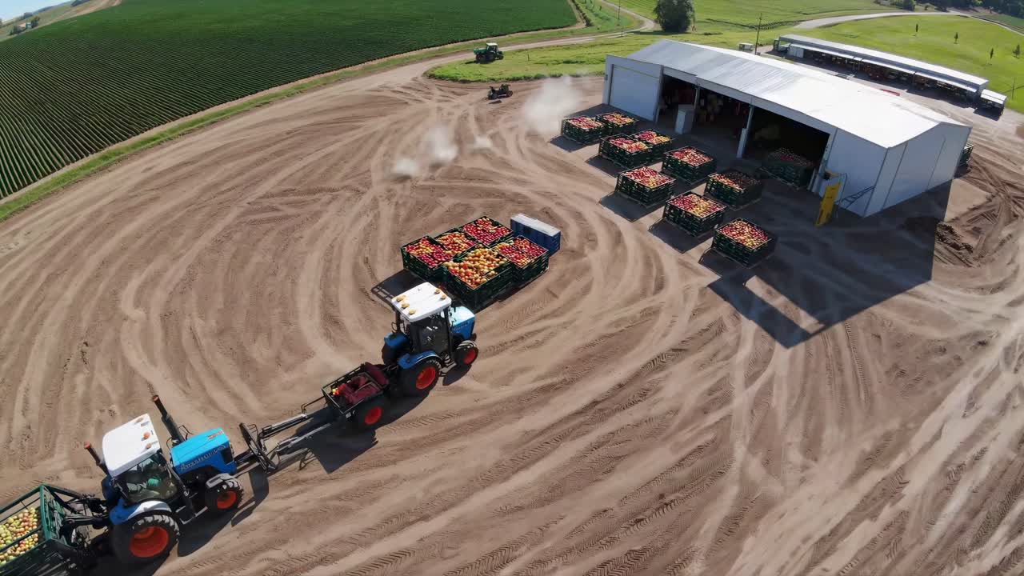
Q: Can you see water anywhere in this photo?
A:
No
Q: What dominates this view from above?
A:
paved ground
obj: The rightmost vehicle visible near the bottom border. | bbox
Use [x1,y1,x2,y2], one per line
[72,402,247,556]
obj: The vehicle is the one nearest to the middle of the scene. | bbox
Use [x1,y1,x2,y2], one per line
[375,286,474,391]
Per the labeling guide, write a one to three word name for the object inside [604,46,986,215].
barn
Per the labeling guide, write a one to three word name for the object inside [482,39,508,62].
work vehicle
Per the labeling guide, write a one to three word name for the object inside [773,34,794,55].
truck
